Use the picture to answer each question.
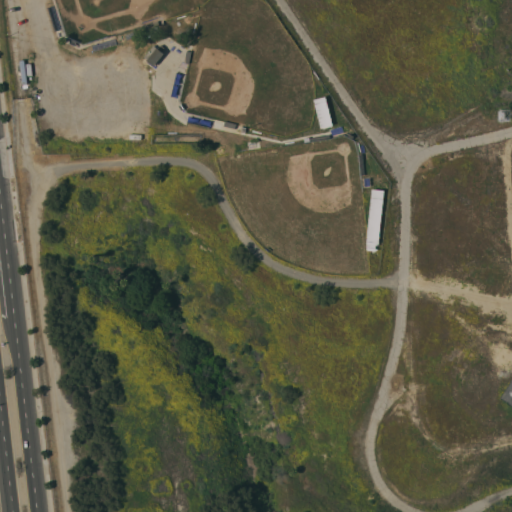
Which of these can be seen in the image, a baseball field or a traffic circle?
baseball field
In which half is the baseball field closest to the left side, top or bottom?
top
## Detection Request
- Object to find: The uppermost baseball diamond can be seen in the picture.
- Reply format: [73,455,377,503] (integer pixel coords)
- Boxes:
[56,0,203,46]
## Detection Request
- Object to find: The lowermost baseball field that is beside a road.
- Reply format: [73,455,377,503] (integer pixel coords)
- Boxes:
[217,134,370,274]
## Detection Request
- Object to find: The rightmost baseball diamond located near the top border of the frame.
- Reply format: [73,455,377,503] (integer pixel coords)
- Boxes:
[184,0,315,139]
